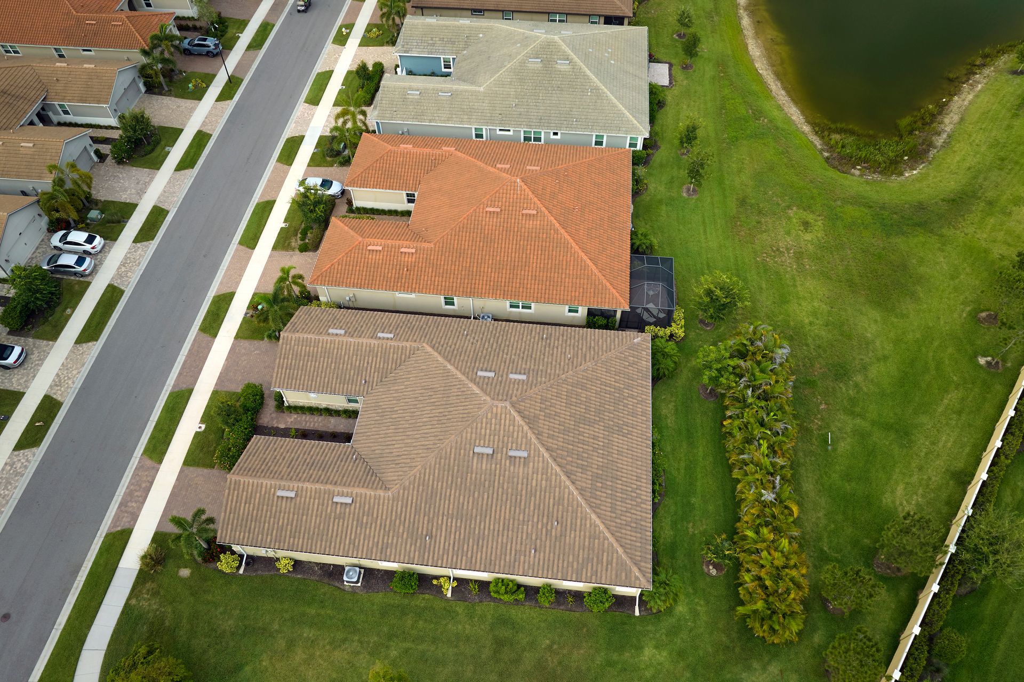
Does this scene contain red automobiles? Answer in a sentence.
No, I can see no red automobile in this picture.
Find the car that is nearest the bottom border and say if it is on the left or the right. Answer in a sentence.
It is on the left.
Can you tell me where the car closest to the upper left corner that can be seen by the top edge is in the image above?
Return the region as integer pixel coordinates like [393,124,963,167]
[178,34,227,59]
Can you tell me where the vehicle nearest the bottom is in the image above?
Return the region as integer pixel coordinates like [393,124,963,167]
[0,341,32,373]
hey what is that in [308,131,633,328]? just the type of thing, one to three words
house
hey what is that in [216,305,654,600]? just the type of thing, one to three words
house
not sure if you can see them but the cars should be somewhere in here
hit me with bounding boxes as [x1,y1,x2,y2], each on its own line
[0,341,32,373]
[38,251,102,280]
[292,175,349,201]
[178,34,227,59]
[47,230,111,256]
